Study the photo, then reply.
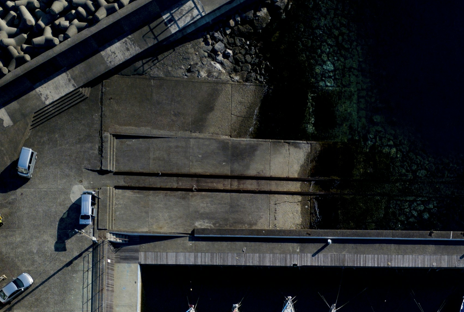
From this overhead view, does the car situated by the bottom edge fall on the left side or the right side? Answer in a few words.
left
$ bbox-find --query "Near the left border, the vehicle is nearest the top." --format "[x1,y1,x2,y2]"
[16,144,37,177]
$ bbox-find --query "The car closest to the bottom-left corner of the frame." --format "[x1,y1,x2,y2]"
[0,272,36,305]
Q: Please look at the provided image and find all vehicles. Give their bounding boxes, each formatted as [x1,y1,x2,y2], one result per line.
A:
[0,272,36,305]
[76,190,100,225]
[16,144,37,177]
